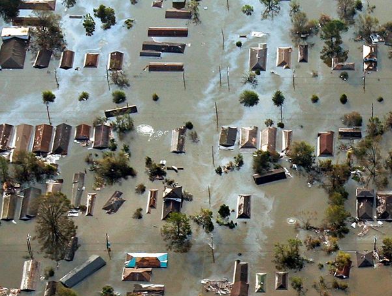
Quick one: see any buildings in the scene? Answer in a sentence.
Yes, the picture does show a building.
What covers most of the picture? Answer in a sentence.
What you mostly see from above here is water.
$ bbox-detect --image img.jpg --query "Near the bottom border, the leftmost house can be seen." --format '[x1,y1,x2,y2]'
[20,259,39,291]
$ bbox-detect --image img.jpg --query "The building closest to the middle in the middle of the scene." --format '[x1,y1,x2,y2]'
[172,126,187,153]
